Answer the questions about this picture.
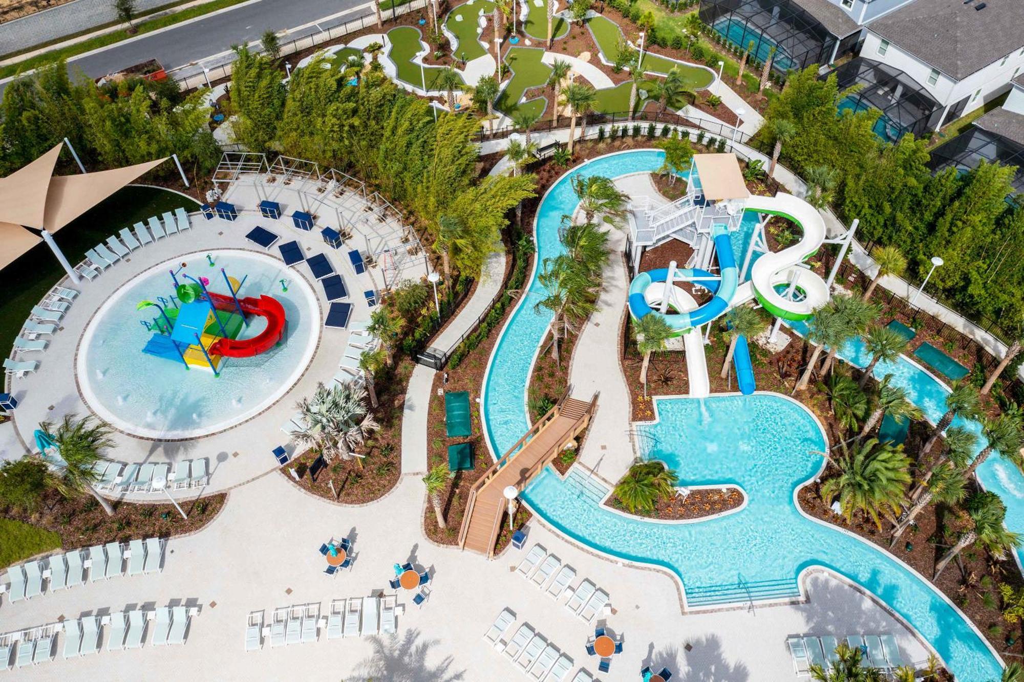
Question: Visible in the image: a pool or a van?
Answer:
pool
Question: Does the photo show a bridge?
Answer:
Yes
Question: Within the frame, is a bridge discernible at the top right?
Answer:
No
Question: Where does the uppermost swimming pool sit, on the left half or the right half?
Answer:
right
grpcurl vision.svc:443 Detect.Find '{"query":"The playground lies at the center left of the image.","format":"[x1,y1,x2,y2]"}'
[136,261,287,379]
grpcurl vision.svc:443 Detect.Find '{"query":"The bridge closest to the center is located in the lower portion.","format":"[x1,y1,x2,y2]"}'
[458,387,594,557]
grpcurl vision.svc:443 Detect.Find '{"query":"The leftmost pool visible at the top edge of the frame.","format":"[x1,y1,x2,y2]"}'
[714,17,797,70]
